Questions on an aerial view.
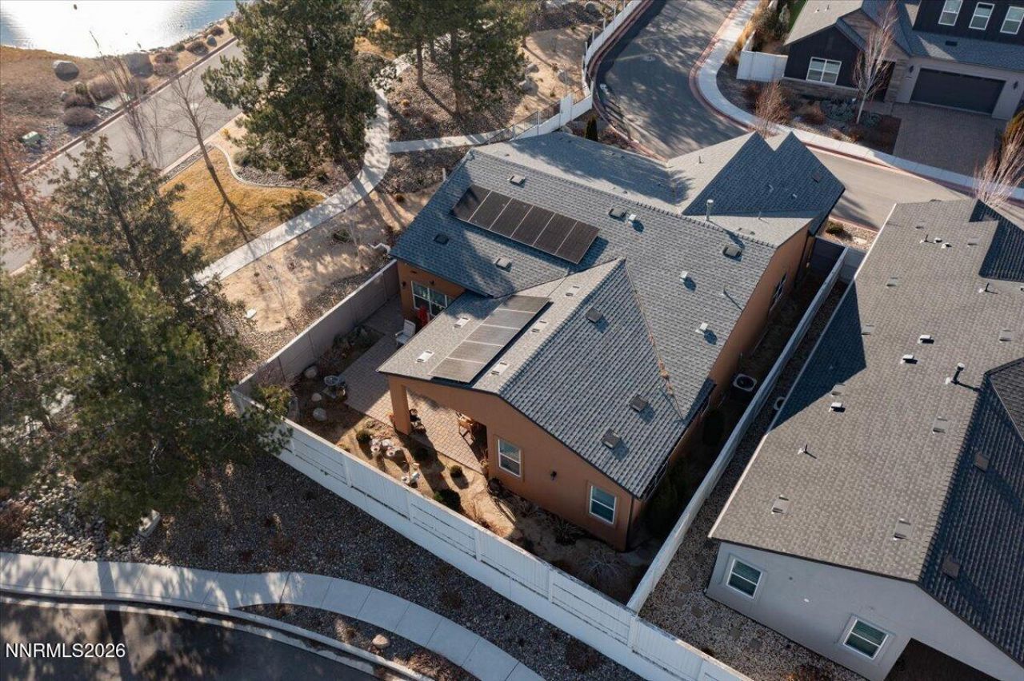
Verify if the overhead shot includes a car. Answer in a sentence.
No, there isn't any car down there.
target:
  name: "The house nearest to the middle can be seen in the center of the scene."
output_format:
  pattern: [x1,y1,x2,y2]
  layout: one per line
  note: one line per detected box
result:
[375,132,848,550]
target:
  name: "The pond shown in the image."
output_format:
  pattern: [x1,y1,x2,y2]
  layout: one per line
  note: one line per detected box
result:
[0,0,228,56]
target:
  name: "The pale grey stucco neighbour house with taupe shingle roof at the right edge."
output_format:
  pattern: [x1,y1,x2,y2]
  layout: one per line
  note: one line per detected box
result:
[703,197,1024,681]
